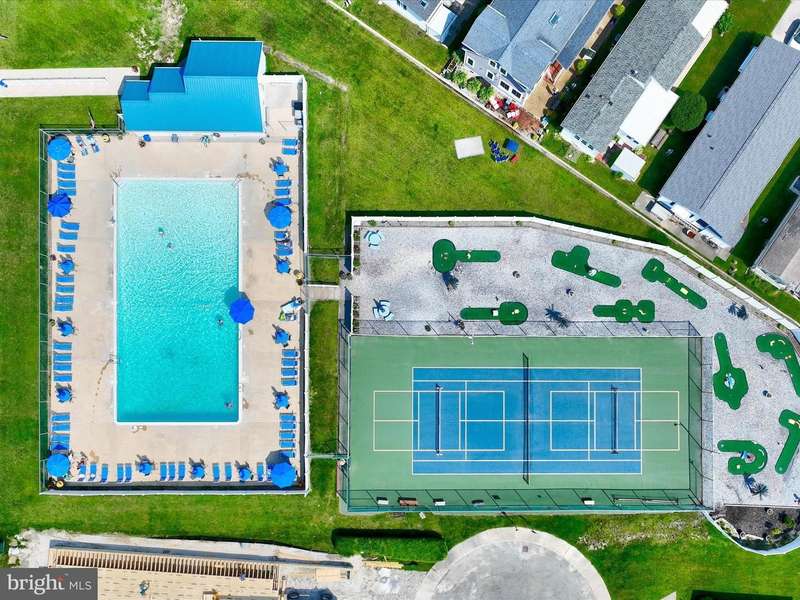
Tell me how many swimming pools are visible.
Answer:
1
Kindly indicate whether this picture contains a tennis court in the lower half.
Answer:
Yes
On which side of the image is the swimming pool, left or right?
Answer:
left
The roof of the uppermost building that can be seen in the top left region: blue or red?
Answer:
blue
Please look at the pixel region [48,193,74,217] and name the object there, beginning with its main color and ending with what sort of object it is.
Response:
blue umbrella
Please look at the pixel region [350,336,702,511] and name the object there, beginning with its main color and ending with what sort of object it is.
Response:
green tennis court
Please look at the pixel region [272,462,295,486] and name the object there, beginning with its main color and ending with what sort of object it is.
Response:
blue umbrella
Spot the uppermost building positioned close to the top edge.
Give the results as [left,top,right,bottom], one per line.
[370,0,456,47]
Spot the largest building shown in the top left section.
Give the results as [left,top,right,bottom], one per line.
[117,40,266,135]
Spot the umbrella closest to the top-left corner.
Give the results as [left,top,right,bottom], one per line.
[48,137,73,161]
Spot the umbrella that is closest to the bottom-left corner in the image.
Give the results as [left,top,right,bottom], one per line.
[48,452,73,475]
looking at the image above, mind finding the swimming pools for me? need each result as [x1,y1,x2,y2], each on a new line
[107,174,245,425]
